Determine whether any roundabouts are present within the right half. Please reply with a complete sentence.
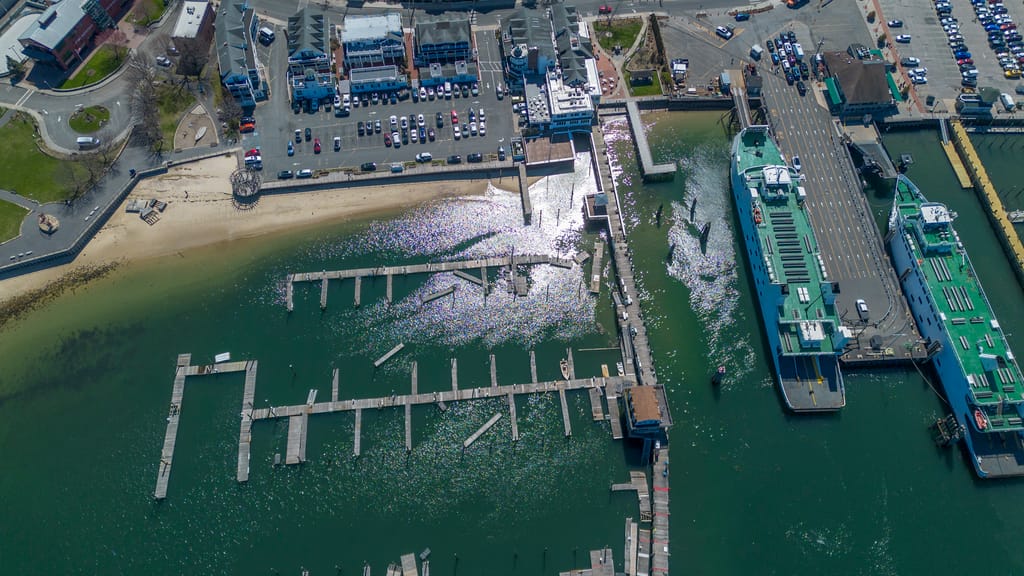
No, I see no roundabout within the right half.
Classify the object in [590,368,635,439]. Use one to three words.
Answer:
pier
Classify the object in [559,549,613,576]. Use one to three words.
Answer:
pier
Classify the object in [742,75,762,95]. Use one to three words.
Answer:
shed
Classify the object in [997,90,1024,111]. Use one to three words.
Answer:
vehicle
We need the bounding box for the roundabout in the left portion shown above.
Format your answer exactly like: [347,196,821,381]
[66,106,111,134]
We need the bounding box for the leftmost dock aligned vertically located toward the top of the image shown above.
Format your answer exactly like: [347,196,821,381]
[518,163,532,220]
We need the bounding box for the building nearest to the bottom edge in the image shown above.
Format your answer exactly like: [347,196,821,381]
[621,383,674,462]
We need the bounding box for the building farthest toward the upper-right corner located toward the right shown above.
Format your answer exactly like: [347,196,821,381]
[946,86,1001,121]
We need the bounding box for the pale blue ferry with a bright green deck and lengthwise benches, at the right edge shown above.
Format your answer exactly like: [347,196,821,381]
[887,171,1024,478]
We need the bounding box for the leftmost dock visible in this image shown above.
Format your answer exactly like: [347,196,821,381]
[154,353,258,500]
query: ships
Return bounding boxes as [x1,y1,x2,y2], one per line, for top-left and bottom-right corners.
[733,125,854,414]
[887,171,1024,478]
